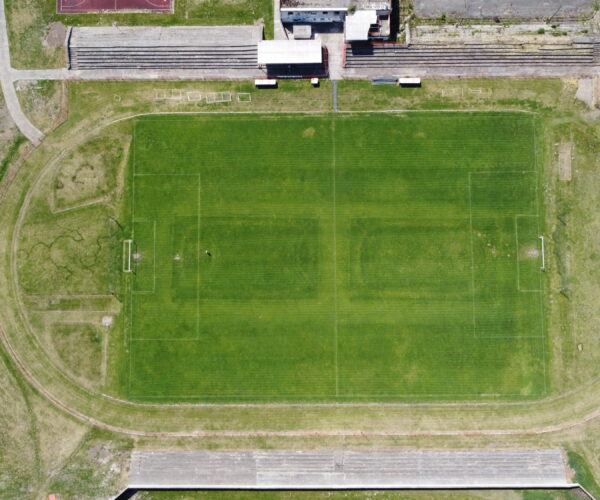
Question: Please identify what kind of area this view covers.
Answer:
sports ground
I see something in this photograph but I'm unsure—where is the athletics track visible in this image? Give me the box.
[0,82,600,436]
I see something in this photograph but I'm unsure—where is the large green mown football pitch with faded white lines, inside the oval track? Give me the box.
[126,111,550,404]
